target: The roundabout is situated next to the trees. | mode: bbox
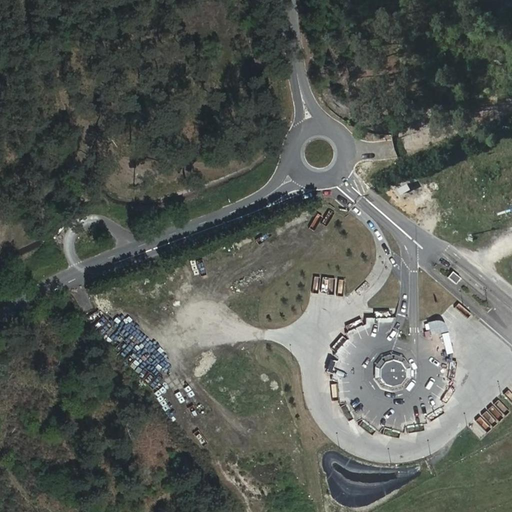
[272,118,356,192]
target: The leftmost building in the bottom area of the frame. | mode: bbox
[376,353,414,394]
